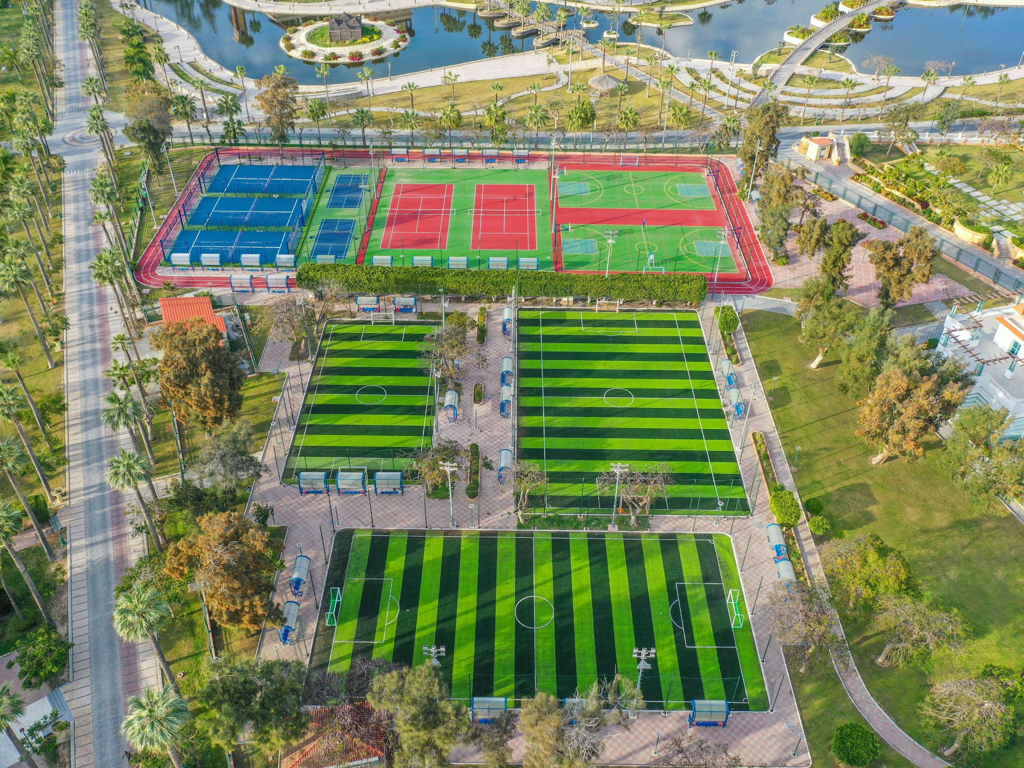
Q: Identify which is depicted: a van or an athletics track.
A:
athletics track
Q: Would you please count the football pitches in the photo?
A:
3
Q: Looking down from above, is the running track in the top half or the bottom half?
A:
top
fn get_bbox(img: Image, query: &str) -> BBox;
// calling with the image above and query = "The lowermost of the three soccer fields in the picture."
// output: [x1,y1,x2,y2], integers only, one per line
[300,527,771,712]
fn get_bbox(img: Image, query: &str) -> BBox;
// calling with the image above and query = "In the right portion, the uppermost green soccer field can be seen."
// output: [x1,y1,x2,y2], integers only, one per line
[516,306,751,517]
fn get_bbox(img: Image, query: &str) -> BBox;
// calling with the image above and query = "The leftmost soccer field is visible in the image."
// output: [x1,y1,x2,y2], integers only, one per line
[279,318,444,487]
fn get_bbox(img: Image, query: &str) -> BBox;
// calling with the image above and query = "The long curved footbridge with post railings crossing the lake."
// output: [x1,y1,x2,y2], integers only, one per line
[738,0,911,109]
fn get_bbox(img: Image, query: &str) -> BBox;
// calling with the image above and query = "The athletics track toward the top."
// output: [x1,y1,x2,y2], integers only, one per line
[133,148,776,295]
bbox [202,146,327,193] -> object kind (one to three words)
sports court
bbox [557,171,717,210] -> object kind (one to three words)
basketball court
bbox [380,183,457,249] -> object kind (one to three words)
tennis court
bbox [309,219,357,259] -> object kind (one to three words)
sports court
